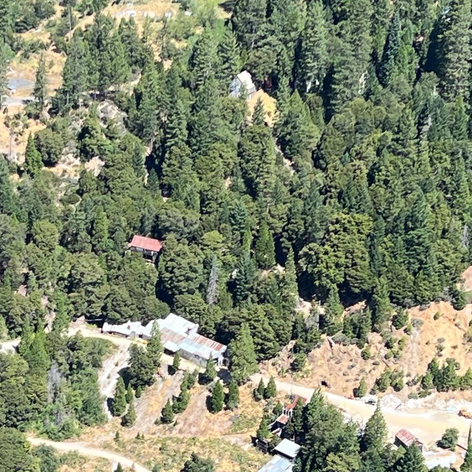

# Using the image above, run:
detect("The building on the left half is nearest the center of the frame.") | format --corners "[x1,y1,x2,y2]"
[129,234,164,263]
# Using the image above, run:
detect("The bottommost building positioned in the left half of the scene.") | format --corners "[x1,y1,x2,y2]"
[102,311,230,372]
